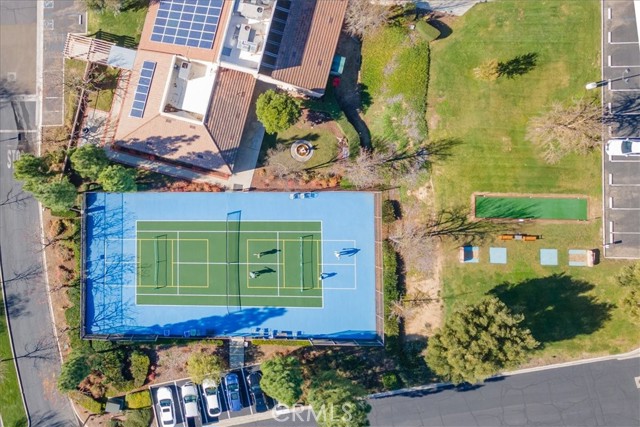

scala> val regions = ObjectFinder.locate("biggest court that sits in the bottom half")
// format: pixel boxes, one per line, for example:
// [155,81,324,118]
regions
[84,191,378,341]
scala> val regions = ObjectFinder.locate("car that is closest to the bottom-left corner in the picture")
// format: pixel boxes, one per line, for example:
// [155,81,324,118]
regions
[156,386,176,427]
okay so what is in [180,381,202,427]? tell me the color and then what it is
white car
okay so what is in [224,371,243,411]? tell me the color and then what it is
blue car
